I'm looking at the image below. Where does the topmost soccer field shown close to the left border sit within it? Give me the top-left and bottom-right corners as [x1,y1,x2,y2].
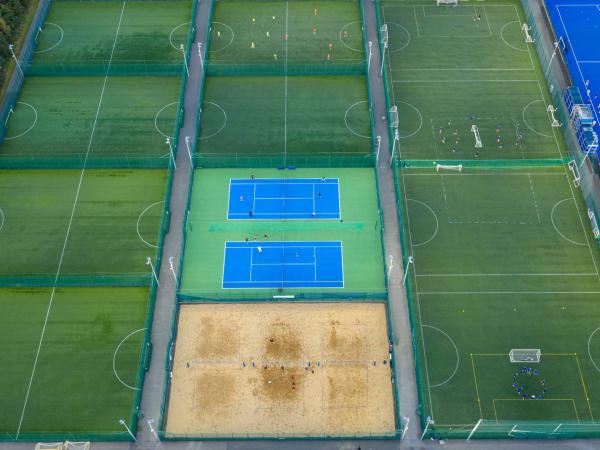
[25,2,195,76]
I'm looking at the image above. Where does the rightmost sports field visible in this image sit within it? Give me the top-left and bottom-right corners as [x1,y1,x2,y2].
[544,0,600,159]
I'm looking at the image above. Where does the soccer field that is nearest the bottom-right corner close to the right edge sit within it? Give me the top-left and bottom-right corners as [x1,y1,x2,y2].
[398,167,600,437]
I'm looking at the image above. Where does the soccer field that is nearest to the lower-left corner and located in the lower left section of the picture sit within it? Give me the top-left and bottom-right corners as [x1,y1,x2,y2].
[0,287,154,435]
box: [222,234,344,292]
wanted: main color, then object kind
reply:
blue tennis court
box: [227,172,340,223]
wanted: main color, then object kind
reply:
blue tennis court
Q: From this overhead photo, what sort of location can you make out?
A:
sports ground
